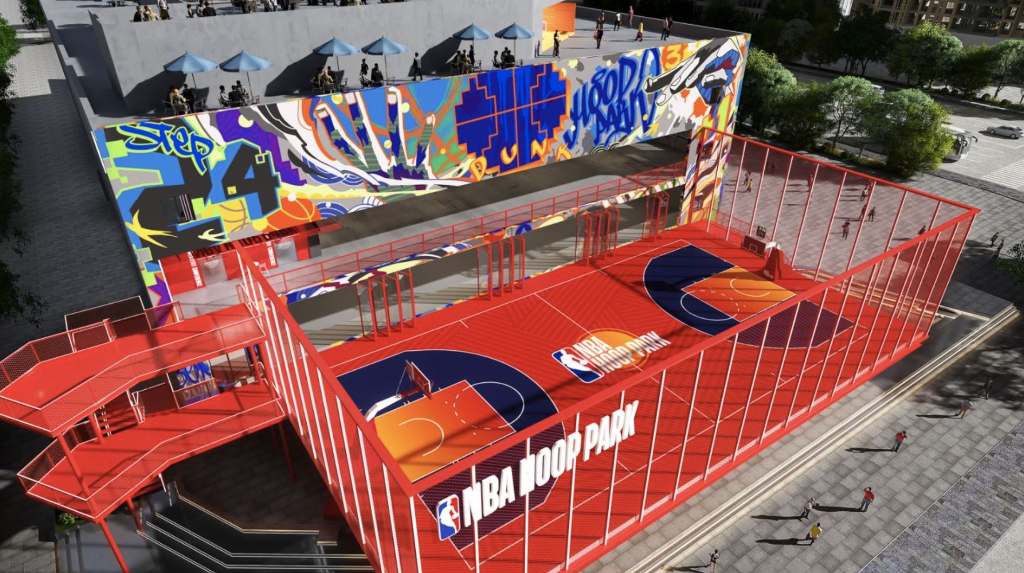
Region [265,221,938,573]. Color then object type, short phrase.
red basketball court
